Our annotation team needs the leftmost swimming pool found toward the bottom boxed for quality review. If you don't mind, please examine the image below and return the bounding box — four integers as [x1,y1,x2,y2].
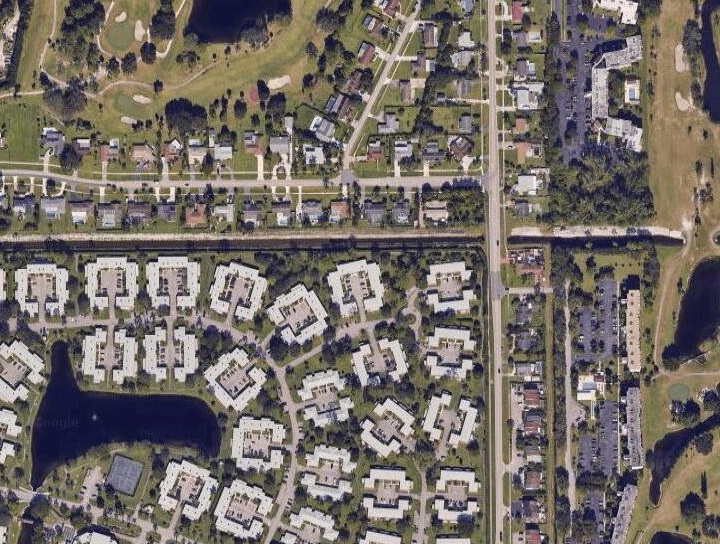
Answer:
[578,376,606,399]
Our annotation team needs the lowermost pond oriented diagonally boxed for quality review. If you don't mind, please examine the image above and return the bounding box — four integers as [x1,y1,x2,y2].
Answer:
[650,416,720,506]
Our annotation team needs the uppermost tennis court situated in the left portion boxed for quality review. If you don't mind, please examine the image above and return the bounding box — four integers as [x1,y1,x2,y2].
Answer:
[106,455,144,495]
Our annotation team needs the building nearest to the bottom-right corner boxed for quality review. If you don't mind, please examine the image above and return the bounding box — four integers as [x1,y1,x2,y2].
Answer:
[614,486,640,544]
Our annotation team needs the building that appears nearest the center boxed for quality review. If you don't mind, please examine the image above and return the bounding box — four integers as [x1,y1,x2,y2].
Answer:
[327,260,384,316]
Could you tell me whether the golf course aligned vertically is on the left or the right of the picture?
right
